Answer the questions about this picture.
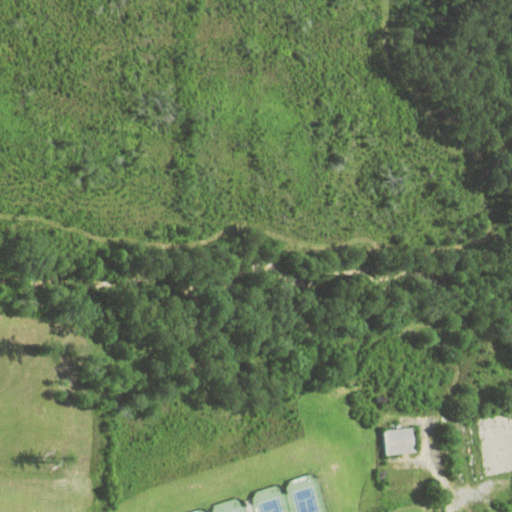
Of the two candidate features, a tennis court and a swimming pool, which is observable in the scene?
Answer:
tennis court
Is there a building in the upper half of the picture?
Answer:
No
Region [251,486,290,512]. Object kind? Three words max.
tennis court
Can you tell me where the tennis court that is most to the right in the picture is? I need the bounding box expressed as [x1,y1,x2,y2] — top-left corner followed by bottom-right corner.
[284,476,326,512]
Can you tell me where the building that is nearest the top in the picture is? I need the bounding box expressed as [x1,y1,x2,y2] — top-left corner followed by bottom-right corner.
[384,428,416,456]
